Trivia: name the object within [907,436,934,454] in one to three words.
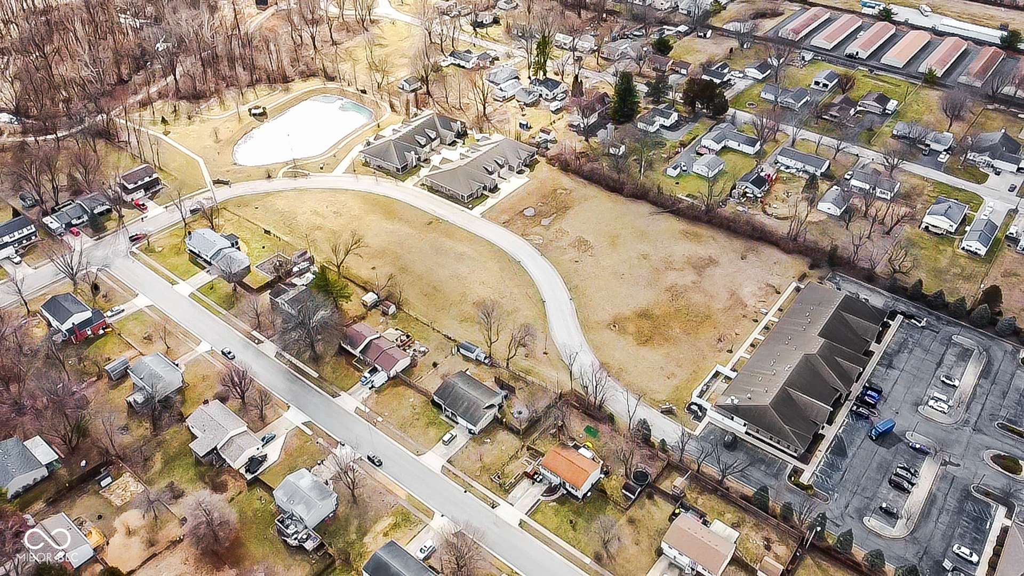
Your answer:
car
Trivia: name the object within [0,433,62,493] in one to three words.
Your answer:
house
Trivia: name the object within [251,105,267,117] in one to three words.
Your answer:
gazebo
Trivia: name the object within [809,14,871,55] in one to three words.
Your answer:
building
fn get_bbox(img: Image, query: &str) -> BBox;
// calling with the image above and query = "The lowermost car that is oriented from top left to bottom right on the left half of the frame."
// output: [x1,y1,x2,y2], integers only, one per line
[365,450,383,465]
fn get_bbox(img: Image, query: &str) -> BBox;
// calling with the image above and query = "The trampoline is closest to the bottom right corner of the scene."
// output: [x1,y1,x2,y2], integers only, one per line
[630,466,654,485]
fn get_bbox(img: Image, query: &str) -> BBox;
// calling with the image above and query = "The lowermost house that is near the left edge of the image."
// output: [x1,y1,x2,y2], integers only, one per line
[22,508,104,576]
